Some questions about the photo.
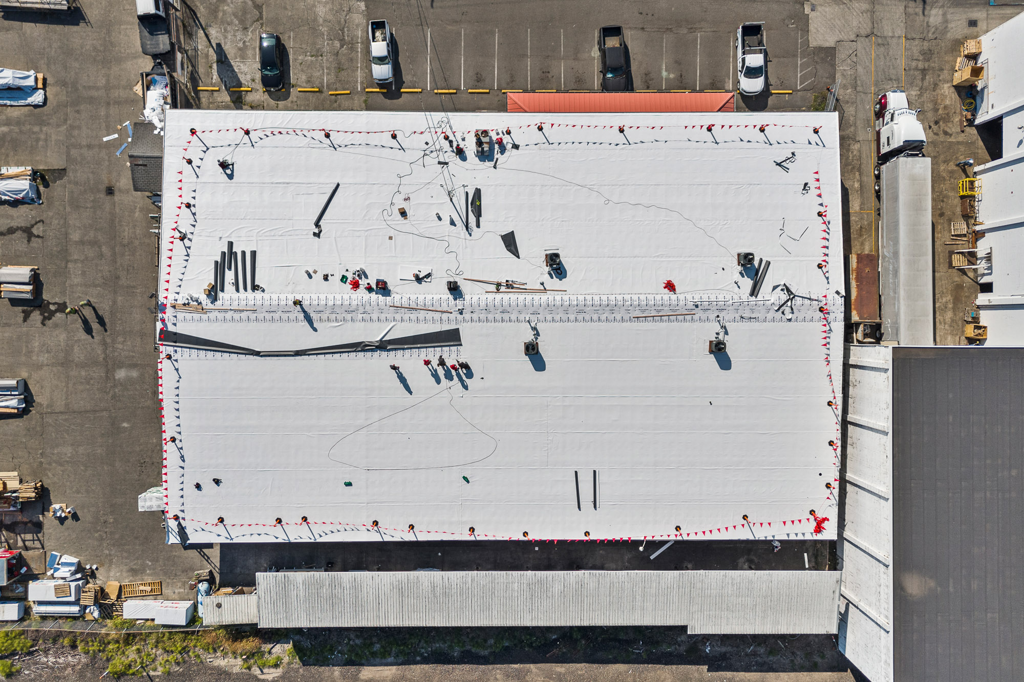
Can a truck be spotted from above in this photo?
Yes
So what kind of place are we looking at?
industrial area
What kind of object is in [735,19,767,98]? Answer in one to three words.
truck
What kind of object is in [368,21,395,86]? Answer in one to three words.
truck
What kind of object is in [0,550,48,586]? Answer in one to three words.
trailer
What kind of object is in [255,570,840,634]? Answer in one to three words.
shed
